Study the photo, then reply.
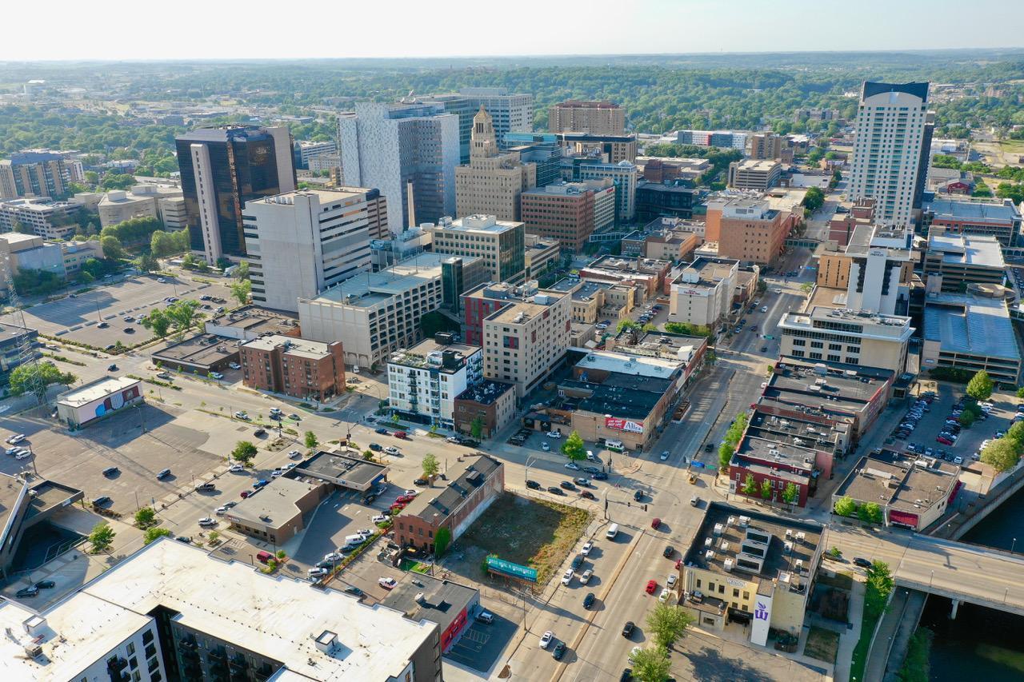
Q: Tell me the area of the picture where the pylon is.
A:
left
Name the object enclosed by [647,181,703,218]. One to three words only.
building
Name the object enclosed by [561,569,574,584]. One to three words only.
vehicle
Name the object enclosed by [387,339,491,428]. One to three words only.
building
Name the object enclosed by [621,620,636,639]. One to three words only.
vehicle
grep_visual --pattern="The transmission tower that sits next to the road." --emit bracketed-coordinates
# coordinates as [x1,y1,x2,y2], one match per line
[0,249,52,405]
